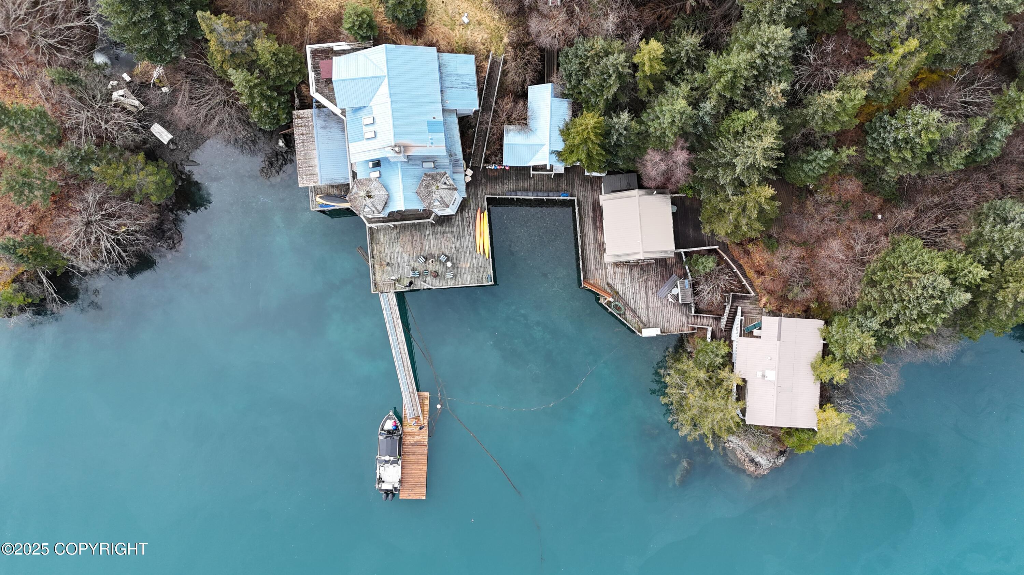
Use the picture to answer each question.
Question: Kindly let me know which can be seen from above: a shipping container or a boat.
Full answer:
The image shows a boat.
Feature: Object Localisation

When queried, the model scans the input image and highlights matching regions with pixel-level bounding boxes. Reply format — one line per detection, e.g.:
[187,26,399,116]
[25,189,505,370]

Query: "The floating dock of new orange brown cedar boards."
[399,391,431,500]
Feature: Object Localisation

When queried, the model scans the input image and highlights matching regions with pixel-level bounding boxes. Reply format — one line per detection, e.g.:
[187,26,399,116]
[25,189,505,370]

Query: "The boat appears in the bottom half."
[376,410,402,499]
